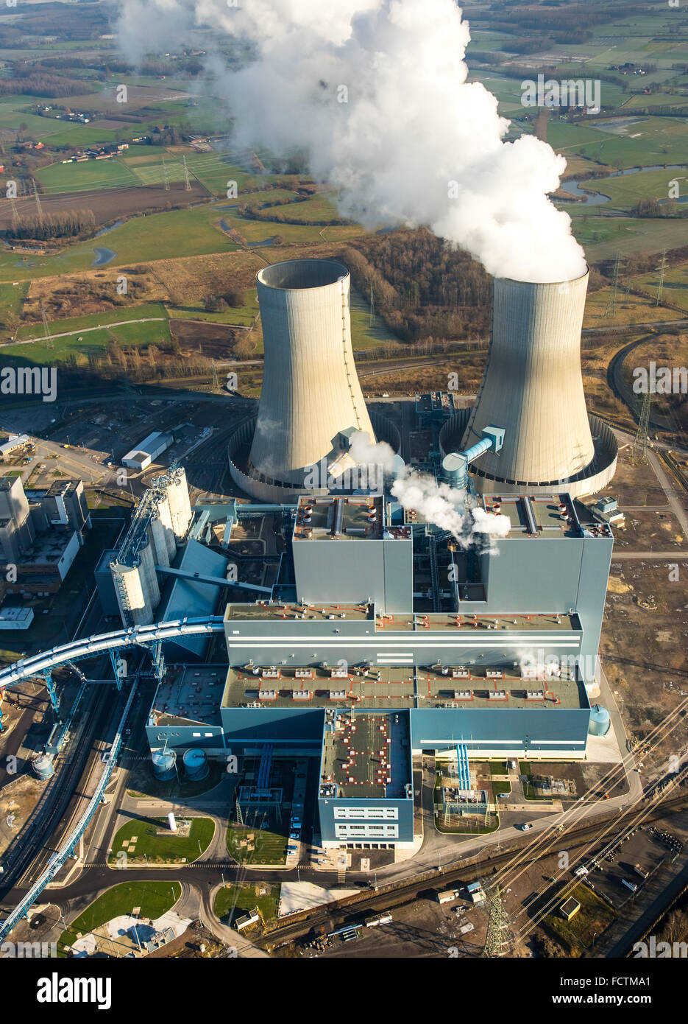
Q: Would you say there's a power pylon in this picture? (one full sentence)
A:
Yes, you can see a power pylon in this photo.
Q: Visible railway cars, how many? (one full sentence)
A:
There are no railway cars in this view.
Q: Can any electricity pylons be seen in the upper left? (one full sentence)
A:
Yes, an electricity pylon shows up in the upper left.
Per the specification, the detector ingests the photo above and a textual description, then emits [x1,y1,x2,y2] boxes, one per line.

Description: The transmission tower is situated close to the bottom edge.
[481,885,528,983]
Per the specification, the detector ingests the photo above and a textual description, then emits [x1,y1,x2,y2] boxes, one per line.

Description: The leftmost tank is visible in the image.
[29,744,58,775]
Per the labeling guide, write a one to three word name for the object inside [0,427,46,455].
shed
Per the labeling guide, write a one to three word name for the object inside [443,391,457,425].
building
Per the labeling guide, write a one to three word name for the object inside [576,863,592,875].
vehicle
